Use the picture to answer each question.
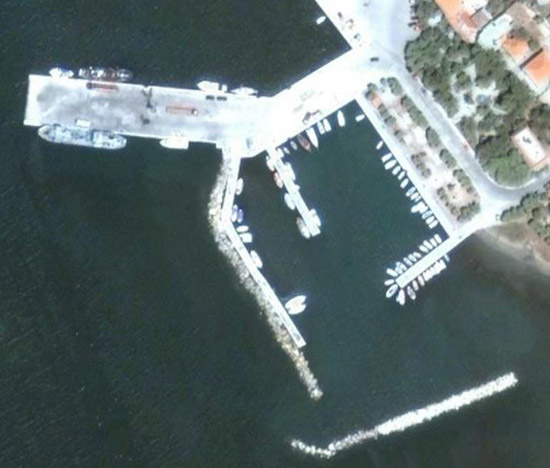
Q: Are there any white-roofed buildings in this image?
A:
Yes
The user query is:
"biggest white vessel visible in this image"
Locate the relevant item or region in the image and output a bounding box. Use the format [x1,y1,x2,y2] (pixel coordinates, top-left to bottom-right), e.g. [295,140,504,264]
[38,128,127,149]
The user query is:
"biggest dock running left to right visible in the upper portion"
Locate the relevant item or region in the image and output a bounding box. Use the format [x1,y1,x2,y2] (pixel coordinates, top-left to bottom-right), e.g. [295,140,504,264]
[24,75,258,157]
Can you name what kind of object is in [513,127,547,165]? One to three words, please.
house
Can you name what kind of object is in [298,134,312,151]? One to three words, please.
boat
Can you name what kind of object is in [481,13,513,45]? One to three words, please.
house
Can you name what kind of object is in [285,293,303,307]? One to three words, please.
boat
